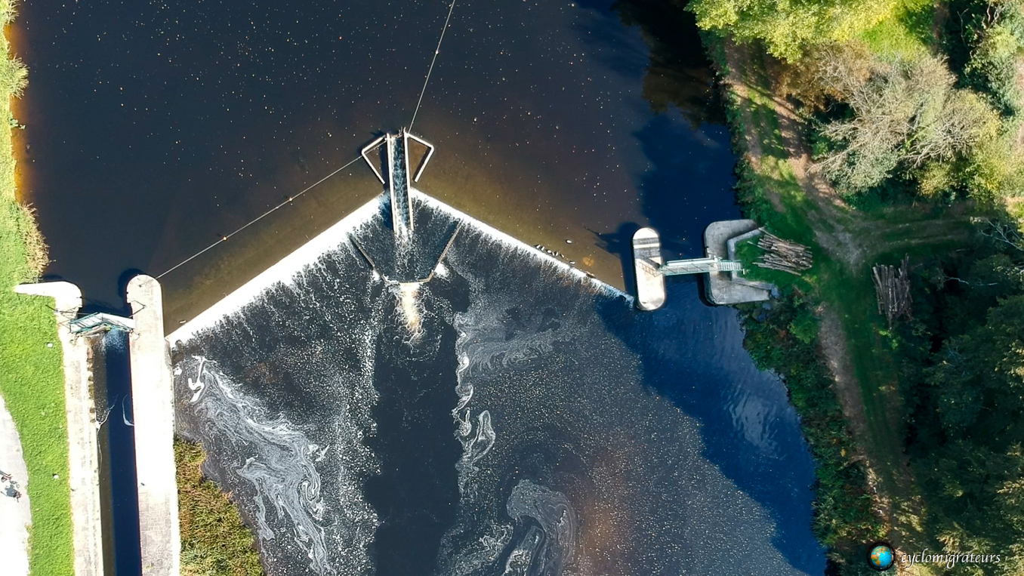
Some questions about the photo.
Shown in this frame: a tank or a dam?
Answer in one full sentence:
It is a dam that can be seen here.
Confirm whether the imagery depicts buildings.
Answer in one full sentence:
No, no building is visible in the view.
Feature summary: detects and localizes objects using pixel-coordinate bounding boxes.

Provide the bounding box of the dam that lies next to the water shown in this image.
[168,187,633,358]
